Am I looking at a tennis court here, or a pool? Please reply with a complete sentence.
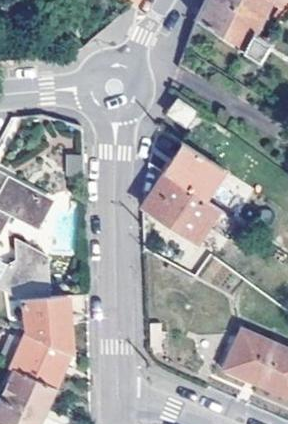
The one in the frame is a pool.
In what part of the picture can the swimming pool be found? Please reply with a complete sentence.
You can find the swimming pool in the left area of the picture.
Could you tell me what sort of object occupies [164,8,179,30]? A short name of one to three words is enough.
car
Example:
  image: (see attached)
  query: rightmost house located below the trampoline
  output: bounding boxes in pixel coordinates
[222,326,288,401]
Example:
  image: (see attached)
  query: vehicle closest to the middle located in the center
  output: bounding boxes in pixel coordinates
[143,170,155,192]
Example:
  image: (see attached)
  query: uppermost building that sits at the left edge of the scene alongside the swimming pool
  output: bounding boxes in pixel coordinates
[0,176,53,229]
